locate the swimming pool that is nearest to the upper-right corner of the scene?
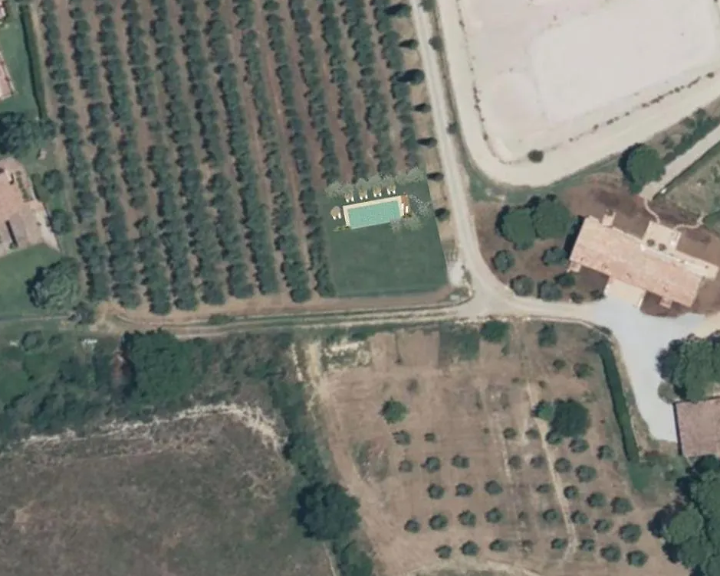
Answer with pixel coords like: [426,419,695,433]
[343,195,405,230]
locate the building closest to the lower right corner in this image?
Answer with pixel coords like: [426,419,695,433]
[676,399,720,457]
